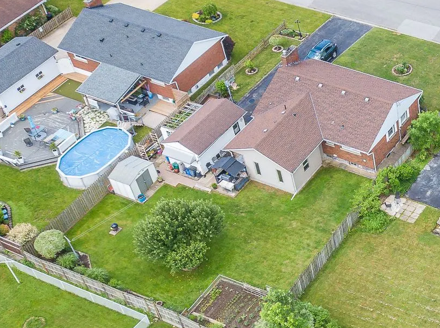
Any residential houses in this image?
Yes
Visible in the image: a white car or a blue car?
blue car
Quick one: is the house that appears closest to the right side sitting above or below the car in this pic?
below it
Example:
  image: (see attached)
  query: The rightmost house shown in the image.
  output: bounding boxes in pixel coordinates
[222,51,425,199]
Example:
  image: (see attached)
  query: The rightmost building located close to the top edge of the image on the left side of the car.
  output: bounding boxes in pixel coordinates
[56,0,236,121]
